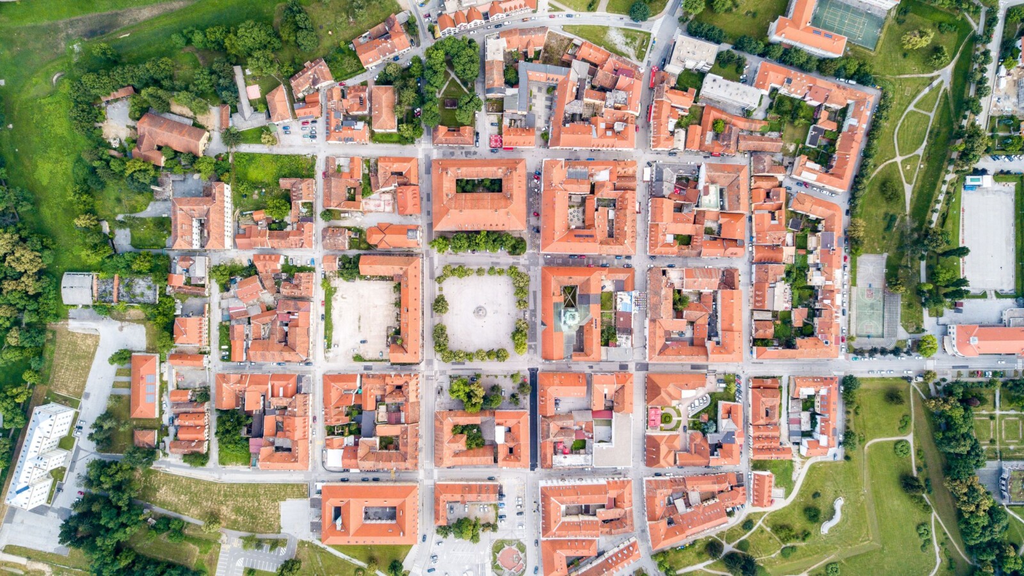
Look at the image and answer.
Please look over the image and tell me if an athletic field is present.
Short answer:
Yes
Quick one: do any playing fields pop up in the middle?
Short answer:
No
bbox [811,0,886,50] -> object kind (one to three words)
sports court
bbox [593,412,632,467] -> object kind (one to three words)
building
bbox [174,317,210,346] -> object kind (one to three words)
house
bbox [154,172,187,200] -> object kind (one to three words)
shed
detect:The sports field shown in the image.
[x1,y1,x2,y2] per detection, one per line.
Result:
[962,186,1015,293]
